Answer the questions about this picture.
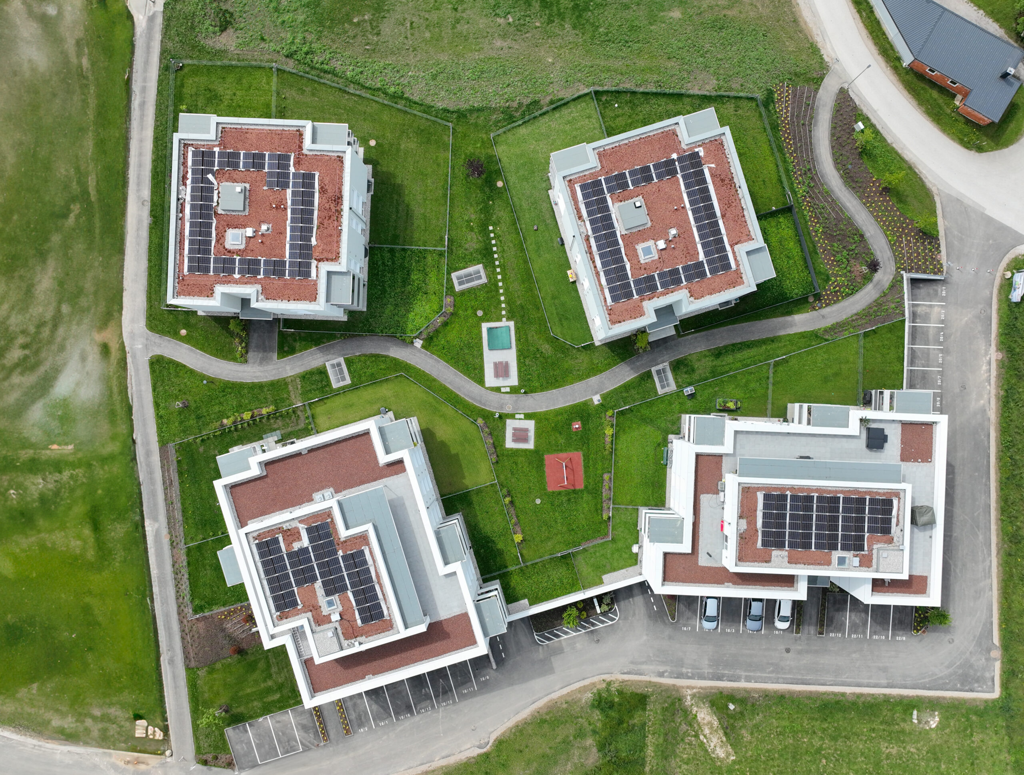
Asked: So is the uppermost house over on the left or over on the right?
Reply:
right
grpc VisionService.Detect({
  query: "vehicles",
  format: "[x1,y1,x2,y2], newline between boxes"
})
[702,596,721,630]
[746,598,766,632]
[775,599,795,630]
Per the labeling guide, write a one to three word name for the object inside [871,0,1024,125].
house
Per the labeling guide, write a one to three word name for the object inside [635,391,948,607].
building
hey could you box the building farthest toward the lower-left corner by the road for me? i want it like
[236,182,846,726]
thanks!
[213,413,511,709]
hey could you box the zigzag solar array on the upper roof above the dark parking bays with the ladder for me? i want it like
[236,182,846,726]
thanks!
[251,520,386,627]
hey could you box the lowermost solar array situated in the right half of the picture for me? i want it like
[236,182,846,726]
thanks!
[757,492,895,554]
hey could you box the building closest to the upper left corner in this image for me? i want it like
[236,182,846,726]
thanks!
[167,113,368,320]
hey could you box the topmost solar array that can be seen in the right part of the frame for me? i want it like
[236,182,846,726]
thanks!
[576,148,736,304]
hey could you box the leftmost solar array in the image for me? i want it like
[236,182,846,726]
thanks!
[182,148,316,280]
